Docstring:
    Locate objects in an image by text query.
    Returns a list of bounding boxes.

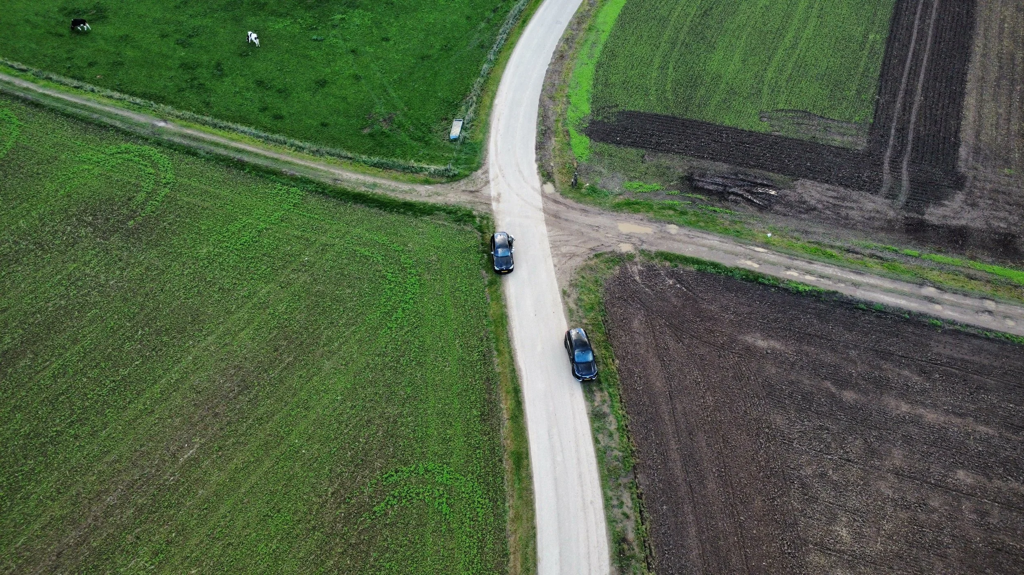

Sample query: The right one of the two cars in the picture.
[565,327,598,380]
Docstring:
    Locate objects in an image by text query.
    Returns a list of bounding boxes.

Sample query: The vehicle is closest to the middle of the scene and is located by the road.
[490,234,514,273]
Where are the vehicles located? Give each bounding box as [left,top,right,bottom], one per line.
[565,327,598,380]
[490,234,514,273]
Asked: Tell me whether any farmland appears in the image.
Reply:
Yes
